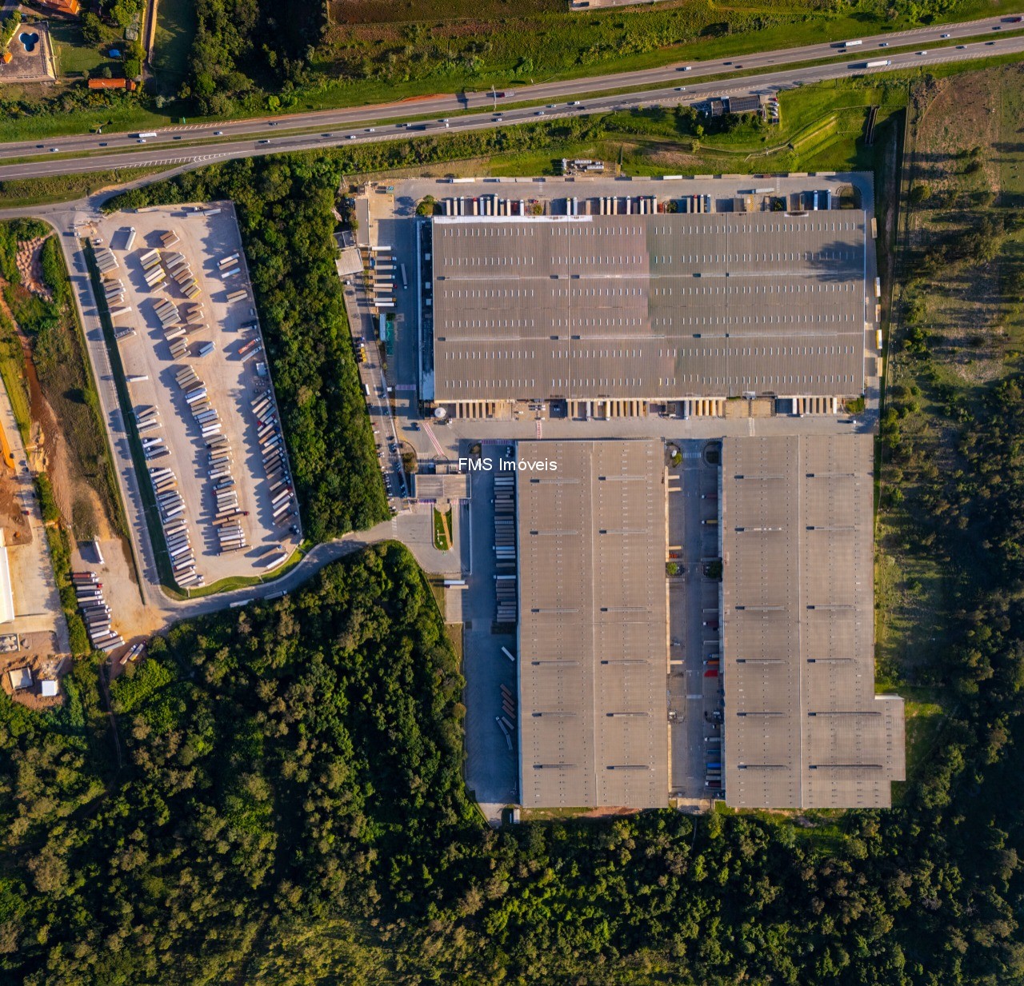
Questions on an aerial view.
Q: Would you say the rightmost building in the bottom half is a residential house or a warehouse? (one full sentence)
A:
In the photo, the rightmost building in the bottom half shows up as a warehouse.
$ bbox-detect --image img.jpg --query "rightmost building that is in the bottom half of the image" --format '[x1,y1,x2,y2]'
[718,434,905,808]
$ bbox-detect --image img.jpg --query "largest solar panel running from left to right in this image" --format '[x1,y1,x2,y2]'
[730,96,759,111]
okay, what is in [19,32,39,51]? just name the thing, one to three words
swimming pool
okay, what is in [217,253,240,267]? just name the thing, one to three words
vehicle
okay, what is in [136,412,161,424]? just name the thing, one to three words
vehicle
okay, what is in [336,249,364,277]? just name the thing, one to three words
shed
